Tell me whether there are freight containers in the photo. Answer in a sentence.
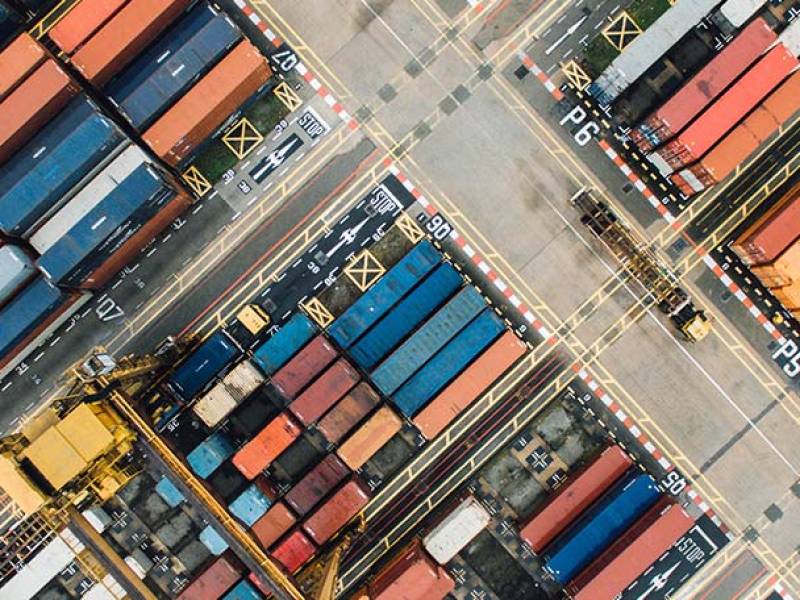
Yes, I can see a freight container in this picture.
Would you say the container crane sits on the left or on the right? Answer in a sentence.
The container crane sits on the left side.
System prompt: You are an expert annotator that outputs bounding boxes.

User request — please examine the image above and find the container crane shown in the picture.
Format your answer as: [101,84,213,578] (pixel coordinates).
[0,320,368,600]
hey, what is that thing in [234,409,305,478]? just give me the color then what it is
orange shipping container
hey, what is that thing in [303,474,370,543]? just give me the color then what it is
red shipping container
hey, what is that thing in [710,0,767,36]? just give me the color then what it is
white shipping container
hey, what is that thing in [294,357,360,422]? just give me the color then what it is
red shipping container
